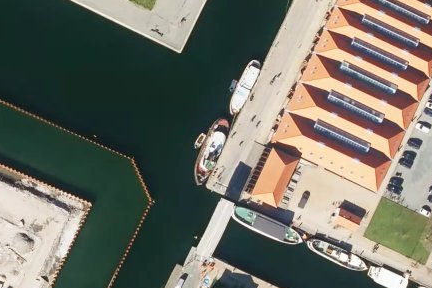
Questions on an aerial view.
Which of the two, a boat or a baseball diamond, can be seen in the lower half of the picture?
boat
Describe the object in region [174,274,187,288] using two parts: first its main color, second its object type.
white vehicle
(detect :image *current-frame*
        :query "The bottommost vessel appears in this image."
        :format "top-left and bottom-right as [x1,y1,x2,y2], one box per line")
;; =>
[369,266,408,288]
